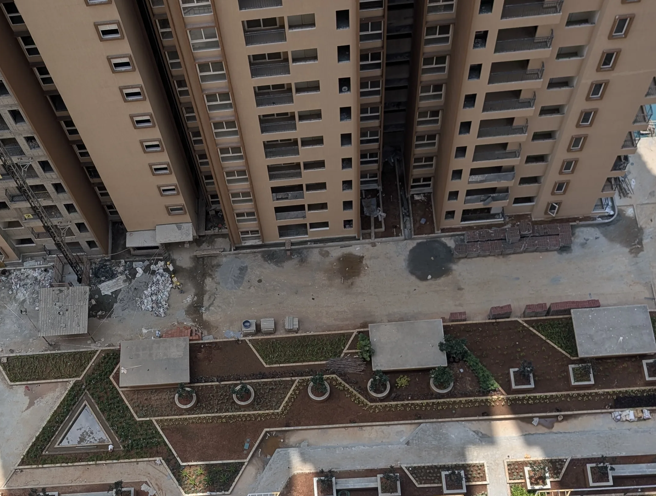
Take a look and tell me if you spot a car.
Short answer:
No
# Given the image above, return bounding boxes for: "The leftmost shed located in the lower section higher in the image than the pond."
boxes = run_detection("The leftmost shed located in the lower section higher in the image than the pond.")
[38,286,98,348]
